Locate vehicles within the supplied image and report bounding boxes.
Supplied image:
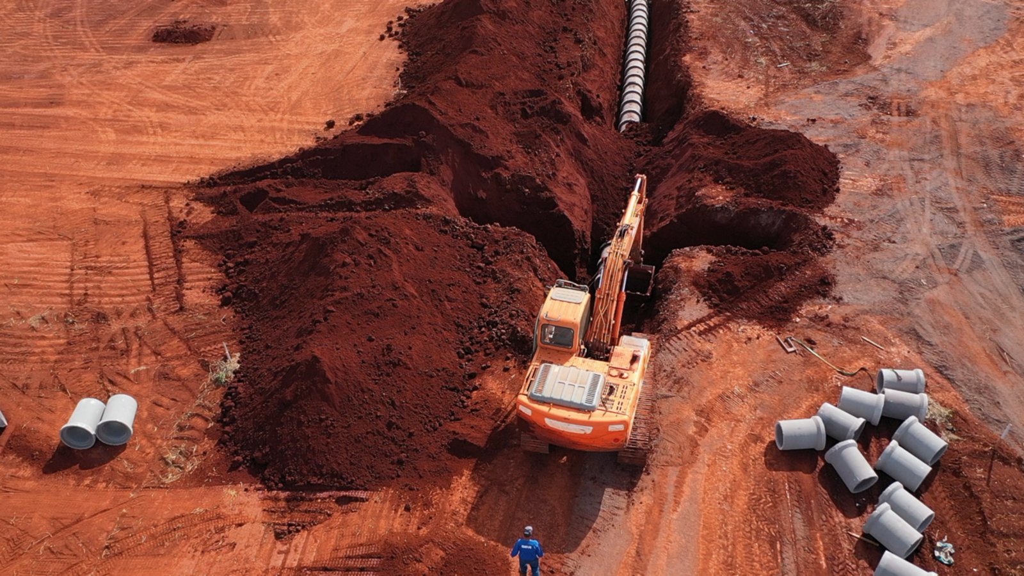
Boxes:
[516,169,660,466]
